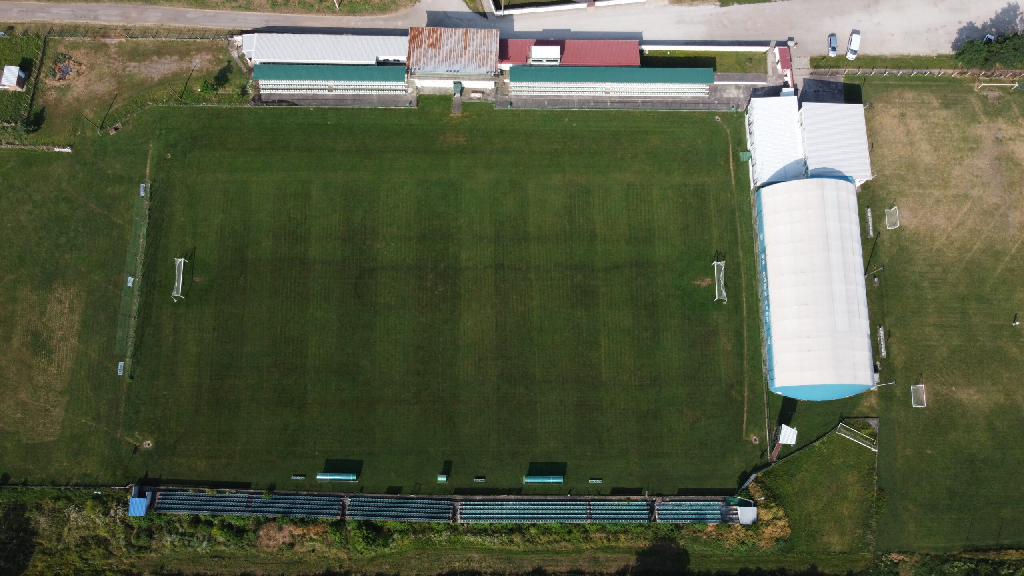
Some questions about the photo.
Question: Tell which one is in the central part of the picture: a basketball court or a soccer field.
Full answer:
Looking in the central part of the picture, you will find a soccer field.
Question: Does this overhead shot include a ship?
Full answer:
No, this view has no ship in it.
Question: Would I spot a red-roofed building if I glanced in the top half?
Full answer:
Yes, a red-roofed building can be seen in the top half.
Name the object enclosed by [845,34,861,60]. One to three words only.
car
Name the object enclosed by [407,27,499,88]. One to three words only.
building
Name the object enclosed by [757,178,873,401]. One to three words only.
building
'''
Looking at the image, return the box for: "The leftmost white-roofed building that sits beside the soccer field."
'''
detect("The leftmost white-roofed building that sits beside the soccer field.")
[252,33,409,67]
